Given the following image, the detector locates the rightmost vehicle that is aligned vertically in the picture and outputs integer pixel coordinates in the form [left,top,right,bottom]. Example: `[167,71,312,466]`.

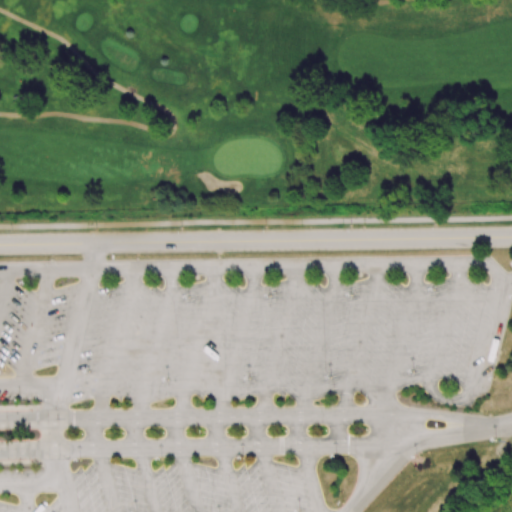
[487,328,502,362]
